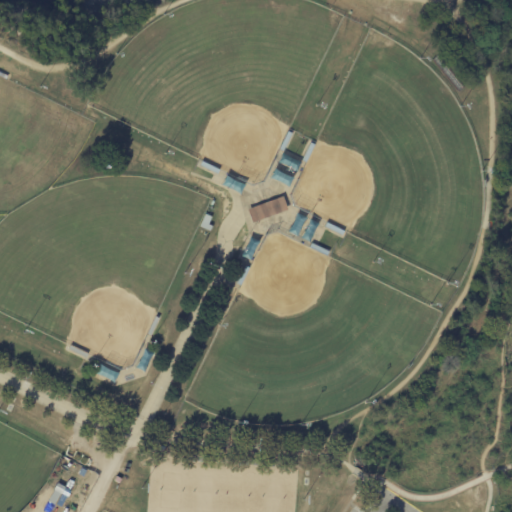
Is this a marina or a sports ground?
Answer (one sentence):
The area seen from above is a sports ground.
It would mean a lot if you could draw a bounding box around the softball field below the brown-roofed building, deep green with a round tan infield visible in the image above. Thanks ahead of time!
[188,228,440,424]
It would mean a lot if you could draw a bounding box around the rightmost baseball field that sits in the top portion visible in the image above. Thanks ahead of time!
[292,29,484,284]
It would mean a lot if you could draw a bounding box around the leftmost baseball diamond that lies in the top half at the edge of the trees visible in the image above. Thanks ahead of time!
[0,76,94,213]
